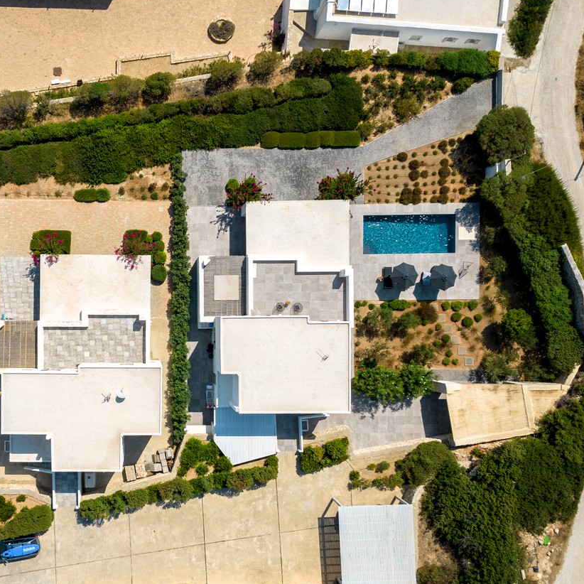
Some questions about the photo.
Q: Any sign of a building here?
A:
Yes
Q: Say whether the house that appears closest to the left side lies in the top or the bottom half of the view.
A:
bottom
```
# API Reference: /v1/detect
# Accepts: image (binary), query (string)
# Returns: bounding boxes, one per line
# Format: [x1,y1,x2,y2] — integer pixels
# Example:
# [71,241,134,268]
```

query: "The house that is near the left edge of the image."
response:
[0,254,162,509]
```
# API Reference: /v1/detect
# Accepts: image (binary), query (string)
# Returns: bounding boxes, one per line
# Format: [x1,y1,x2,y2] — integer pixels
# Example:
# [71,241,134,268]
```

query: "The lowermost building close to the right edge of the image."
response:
[432,381,568,442]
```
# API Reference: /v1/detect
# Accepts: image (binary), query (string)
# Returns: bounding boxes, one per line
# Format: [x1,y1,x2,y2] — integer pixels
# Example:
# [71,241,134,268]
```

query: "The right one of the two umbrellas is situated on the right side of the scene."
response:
[430,264,456,291]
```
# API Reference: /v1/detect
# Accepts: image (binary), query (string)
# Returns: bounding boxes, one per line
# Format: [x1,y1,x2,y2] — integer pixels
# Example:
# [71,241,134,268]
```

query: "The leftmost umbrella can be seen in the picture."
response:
[391,263,417,291]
